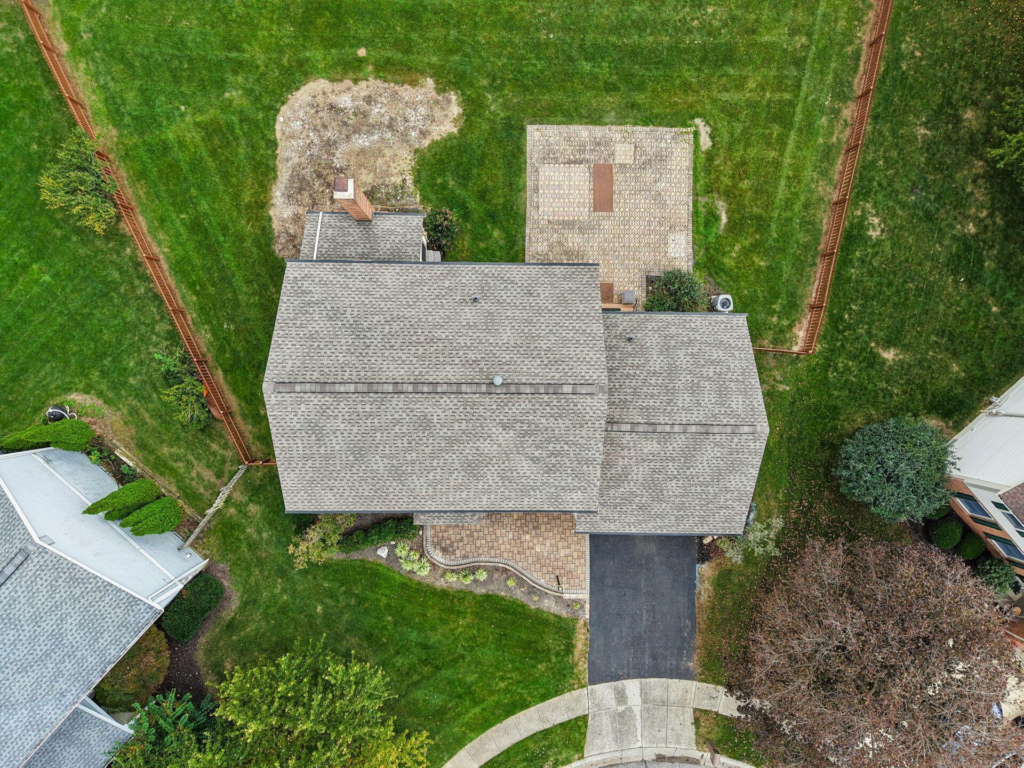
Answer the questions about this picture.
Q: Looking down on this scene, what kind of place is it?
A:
residential area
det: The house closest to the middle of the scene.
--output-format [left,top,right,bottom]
[262,176,769,537]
